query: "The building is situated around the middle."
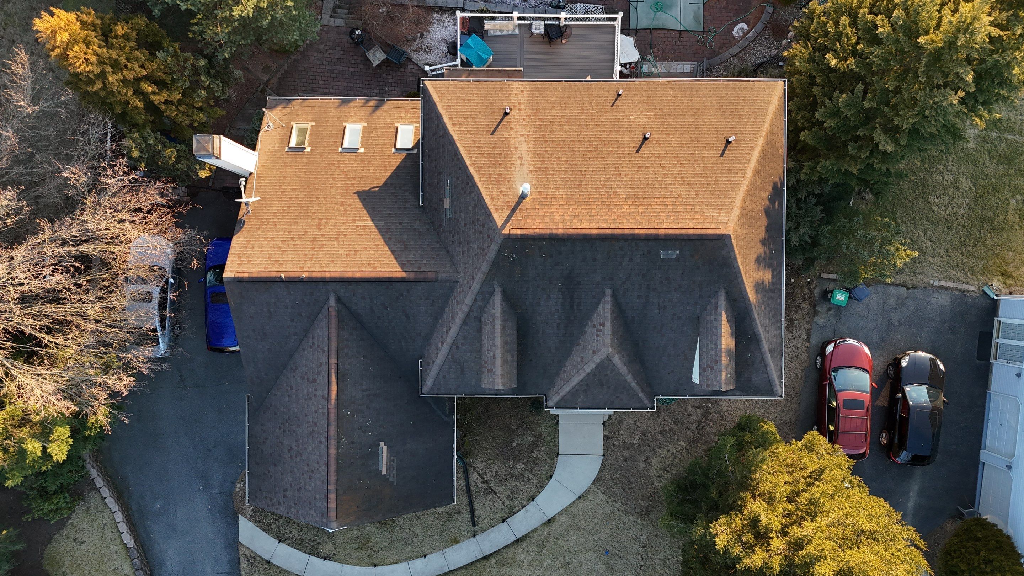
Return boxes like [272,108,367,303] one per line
[191,65,787,530]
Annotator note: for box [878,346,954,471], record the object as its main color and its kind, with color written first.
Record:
black car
